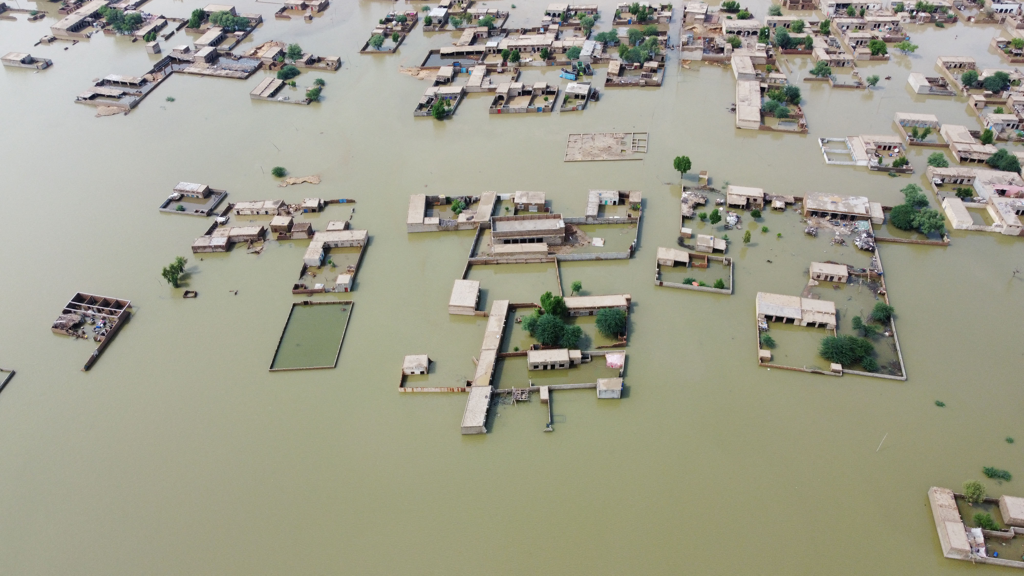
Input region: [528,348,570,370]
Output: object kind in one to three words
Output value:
house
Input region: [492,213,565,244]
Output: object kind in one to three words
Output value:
building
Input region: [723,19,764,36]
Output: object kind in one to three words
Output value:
house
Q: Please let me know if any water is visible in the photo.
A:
Yes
